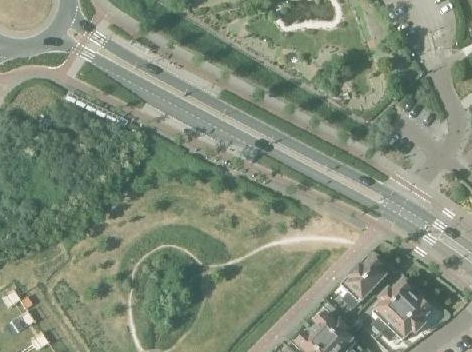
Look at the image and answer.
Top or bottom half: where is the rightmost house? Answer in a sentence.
You can find the rightmost house in the bottom half.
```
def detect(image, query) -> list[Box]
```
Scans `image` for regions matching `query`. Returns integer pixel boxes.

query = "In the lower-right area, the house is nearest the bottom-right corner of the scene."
[369,279,431,340]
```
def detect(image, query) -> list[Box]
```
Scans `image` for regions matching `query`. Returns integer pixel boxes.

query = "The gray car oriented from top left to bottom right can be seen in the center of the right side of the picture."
[358,174,374,187]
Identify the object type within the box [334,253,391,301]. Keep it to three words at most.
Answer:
house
